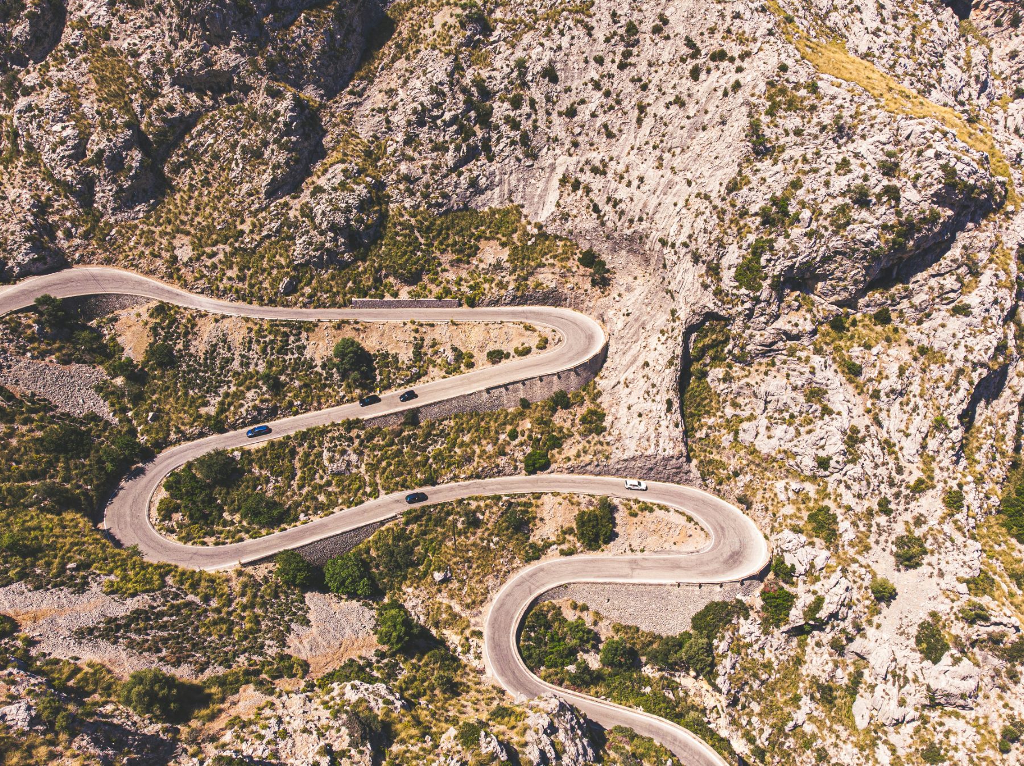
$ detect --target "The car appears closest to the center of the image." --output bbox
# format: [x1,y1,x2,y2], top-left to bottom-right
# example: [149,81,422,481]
[398,390,419,404]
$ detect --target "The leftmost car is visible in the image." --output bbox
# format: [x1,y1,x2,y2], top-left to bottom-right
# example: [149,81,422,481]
[246,426,270,440]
